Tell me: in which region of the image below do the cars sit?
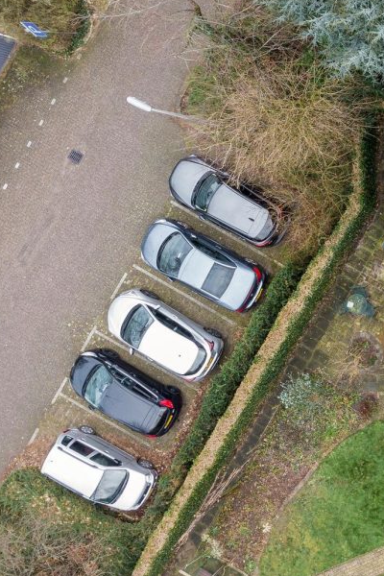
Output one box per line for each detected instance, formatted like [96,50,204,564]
[111,287,231,384]
[141,215,273,314]
[72,344,191,440]
[27,425,165,514]
[169,152,293,247]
